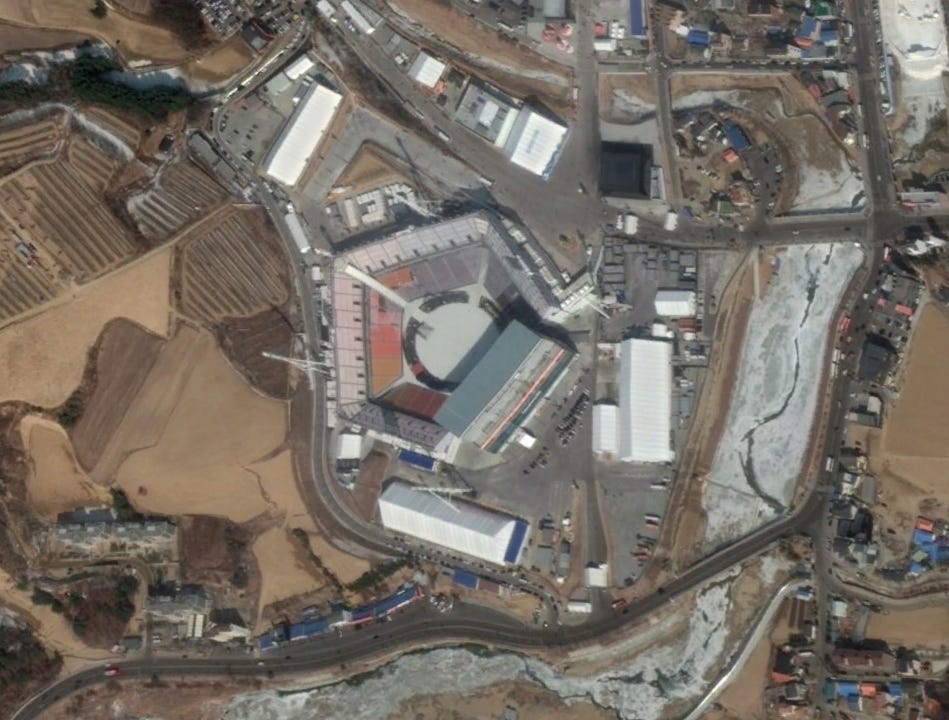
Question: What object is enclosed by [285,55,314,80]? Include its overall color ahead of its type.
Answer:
white tent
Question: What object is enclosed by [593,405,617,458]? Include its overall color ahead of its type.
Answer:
white tent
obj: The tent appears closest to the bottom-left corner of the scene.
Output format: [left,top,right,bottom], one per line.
[381,484,533,566]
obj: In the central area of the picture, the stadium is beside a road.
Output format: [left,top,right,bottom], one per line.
[334,212,576,457]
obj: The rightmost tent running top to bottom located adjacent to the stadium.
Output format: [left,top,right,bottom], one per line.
[617,335,675,461]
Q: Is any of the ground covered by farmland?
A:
Yes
